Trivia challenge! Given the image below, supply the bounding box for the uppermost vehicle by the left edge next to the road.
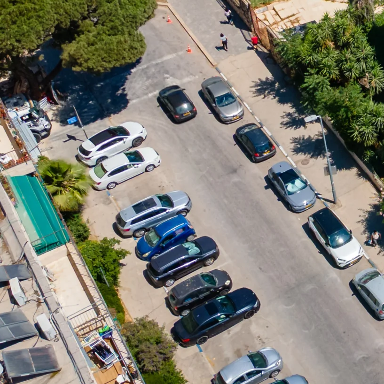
[8,93,54,141]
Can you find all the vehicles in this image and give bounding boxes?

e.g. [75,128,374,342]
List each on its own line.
[304,207,363,269]
[254,366,315,384]
[166,285,260,350]
[136,233,223,290]
[196,75,245,123]
[233,122,276,164]
[346,265,384,325]
[130,209,198,256]
[106,186,194,241]
[161,267,233,317]
[203,344,285,384]
[154,83,196,126]
[85,142,162,191]
[263,157,318,214]
[8,93,54,141]
[66,119,147,167]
